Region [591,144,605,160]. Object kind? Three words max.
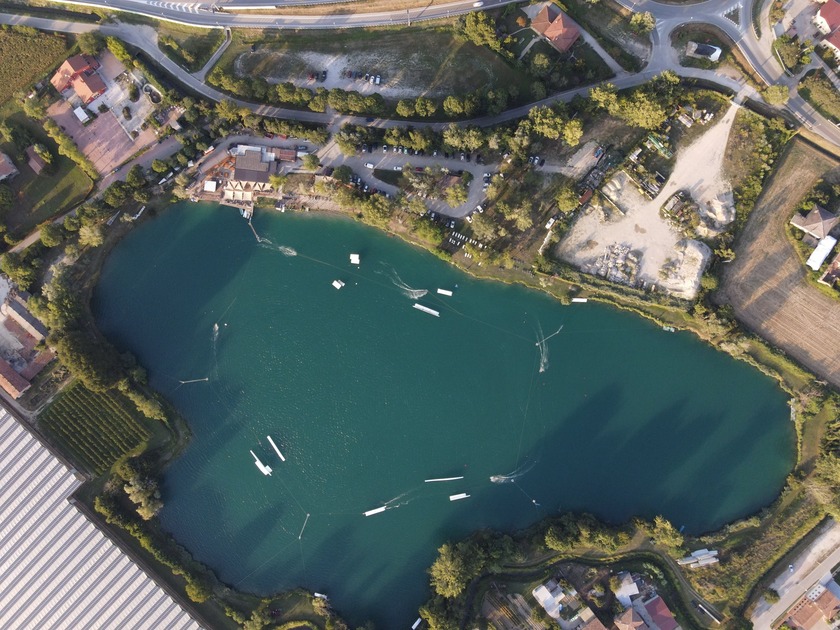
vehicle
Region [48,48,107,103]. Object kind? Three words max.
house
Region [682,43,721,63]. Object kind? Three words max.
building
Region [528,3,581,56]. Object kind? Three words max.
house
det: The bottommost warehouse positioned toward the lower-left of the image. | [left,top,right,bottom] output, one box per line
[0,386,220,630]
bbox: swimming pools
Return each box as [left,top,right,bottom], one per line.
[143,84,162,103]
